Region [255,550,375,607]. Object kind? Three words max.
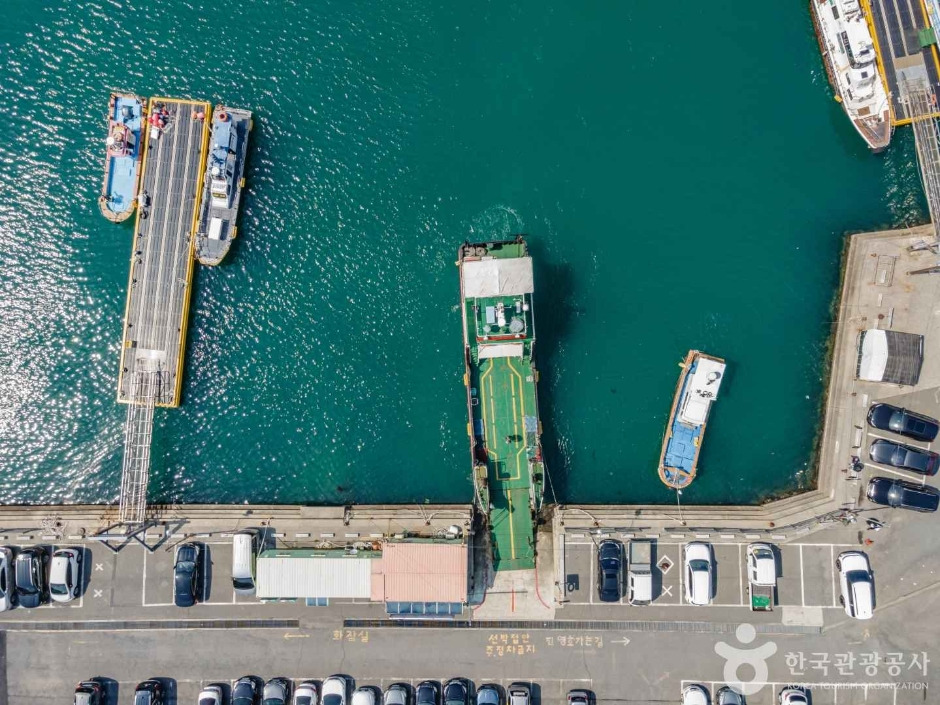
building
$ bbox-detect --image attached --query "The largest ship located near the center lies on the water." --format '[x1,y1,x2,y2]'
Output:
[454,233,544,572]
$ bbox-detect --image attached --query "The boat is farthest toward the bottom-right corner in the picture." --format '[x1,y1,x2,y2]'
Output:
[656,350,725,493]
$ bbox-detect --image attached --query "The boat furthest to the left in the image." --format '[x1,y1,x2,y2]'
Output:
[98,91,148,223]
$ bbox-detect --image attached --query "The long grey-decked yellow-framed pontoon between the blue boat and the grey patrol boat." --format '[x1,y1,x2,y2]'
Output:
[117,96,215,408]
